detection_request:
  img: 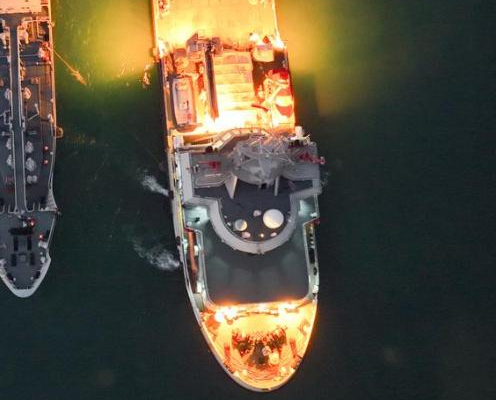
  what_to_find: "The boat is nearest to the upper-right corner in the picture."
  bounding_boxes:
[271,68,295,115]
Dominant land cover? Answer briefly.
water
